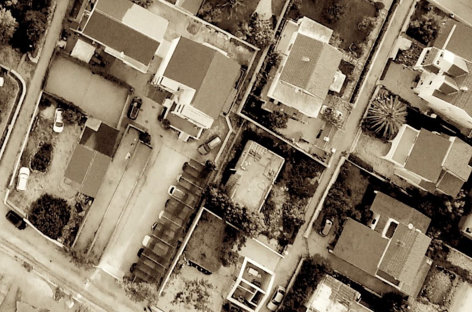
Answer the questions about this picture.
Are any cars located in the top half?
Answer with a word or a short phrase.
Yes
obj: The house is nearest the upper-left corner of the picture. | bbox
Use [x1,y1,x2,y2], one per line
[78,0,169,73]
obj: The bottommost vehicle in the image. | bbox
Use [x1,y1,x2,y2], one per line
[265,282,286,312]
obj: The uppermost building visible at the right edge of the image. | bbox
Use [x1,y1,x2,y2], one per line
[405,16,472,126]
